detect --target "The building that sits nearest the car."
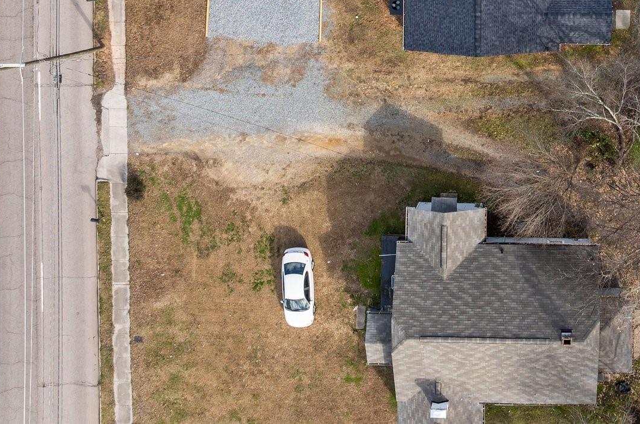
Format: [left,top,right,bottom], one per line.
[364,197,635,424]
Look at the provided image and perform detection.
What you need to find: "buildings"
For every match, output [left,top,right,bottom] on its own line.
[364,197,635,424]
[402,0,614,56]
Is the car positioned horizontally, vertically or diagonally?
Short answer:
vertically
